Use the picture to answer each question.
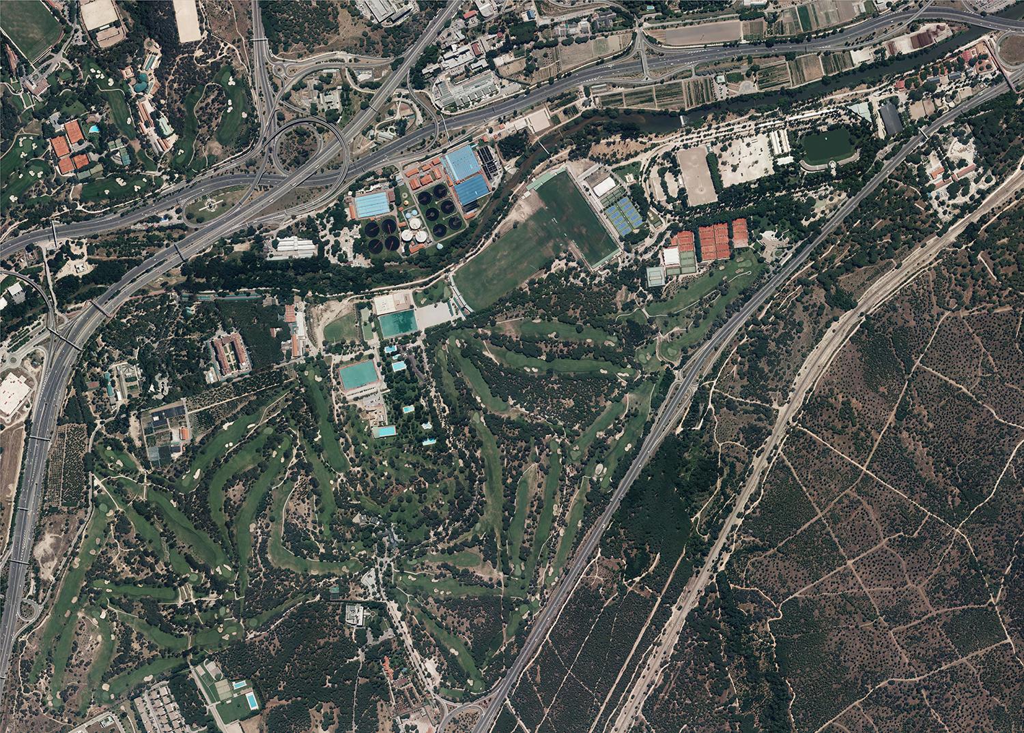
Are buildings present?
Yes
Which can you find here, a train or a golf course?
golf course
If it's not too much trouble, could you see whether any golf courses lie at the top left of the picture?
Yes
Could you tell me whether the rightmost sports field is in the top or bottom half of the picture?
top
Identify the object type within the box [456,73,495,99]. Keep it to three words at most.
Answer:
building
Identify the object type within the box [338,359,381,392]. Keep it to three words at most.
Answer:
sports field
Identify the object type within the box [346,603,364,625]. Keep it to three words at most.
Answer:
building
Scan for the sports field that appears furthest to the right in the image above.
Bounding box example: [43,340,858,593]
[452,170,619,311]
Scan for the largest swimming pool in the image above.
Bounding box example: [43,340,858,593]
[372,426,397,438]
